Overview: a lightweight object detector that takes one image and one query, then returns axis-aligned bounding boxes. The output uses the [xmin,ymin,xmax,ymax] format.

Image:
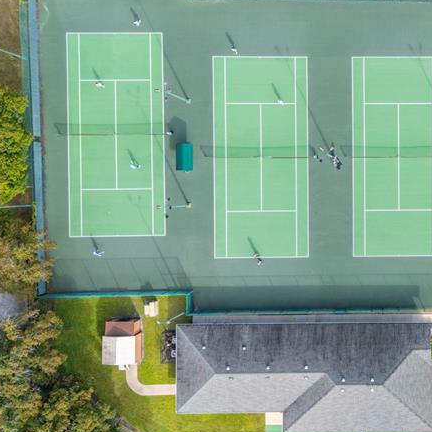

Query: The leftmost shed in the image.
[102,320,144,370]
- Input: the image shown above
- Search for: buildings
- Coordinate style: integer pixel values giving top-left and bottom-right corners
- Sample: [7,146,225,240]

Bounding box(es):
[176,310,432,432]
[102,320,144,370]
